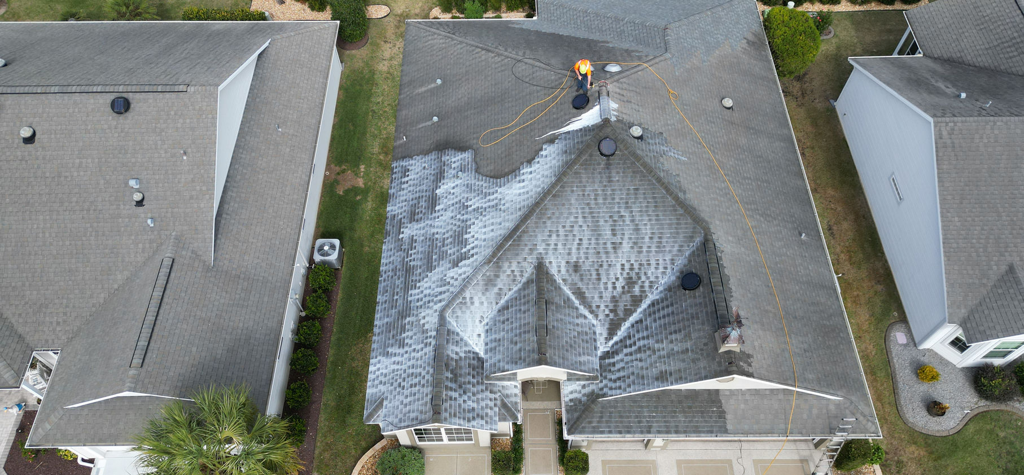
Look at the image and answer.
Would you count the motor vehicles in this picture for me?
0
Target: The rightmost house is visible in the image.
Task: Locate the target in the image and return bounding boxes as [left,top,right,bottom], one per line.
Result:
[830,0,1024,366]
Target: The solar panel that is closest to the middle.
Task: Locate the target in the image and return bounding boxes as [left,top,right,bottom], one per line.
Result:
[599,137,617,155]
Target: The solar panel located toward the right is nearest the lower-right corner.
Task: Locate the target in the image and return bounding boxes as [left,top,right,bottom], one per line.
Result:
[679,269,697,286]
